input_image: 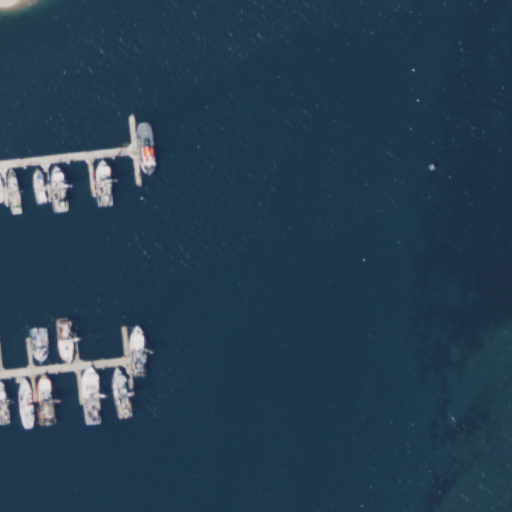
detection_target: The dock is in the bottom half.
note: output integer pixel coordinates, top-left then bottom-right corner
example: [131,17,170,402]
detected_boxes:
[0,326,134,406]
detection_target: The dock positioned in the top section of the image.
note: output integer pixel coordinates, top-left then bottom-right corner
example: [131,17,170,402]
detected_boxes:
[0,114,142,207]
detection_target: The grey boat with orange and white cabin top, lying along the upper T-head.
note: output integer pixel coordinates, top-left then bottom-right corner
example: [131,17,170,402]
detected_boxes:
[134,122,156,182]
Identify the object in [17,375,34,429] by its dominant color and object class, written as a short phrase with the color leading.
white boat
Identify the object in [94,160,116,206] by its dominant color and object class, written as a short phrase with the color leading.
white boat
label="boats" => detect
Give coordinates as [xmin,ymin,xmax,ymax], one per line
[17,375,34,429]
[56,318,77,364]
[33,167,47,206]
[112,366,134,419]
[126,326,151,377]
[94,160,116,206]
[28,328,49,366]
[0,376,12,426]
[134,122,156,182]
[82,366,104,426]
[35,373,58,426]
[48,163,70,212]
[6,168,24,215]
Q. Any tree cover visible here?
No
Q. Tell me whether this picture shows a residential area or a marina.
marina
